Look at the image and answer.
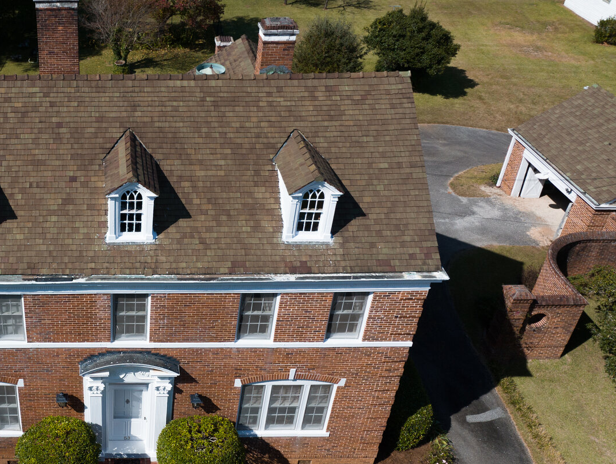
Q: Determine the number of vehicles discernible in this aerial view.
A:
zero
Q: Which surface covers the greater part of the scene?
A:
buildings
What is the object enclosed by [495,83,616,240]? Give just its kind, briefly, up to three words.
building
